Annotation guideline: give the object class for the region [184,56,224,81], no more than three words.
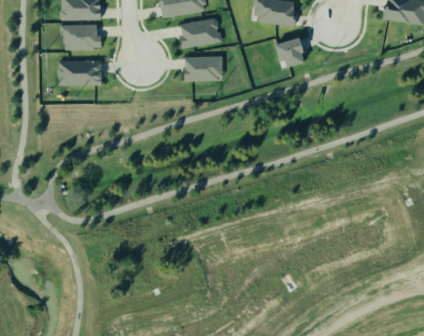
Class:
house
